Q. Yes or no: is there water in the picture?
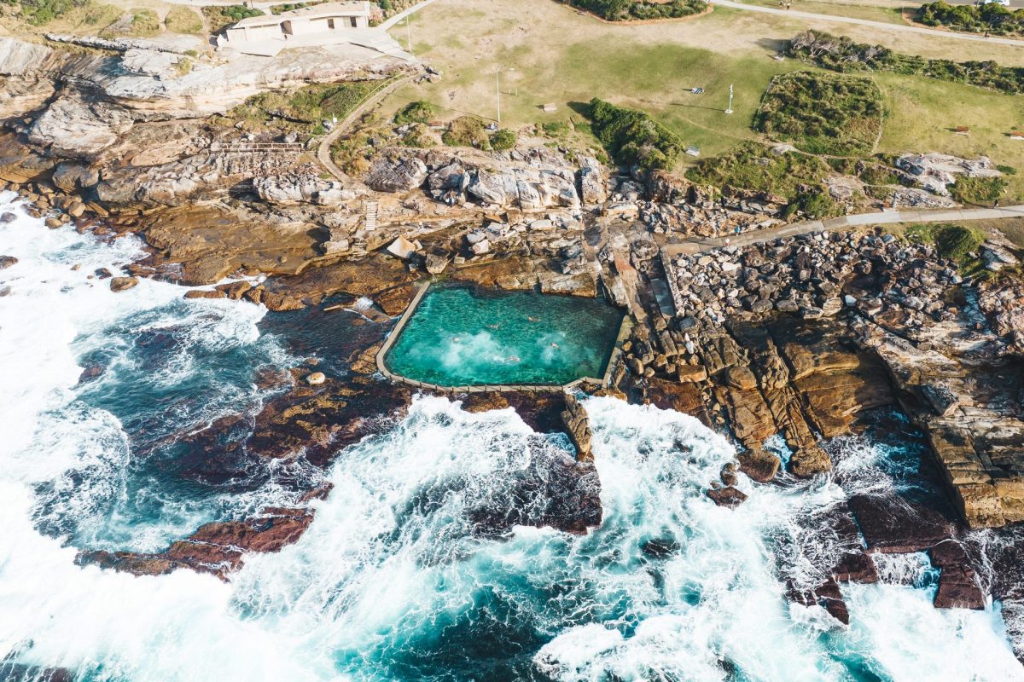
Yes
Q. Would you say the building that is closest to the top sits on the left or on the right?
left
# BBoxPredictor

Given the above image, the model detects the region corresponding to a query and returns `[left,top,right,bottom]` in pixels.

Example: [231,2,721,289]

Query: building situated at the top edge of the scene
[219,0,370,40]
